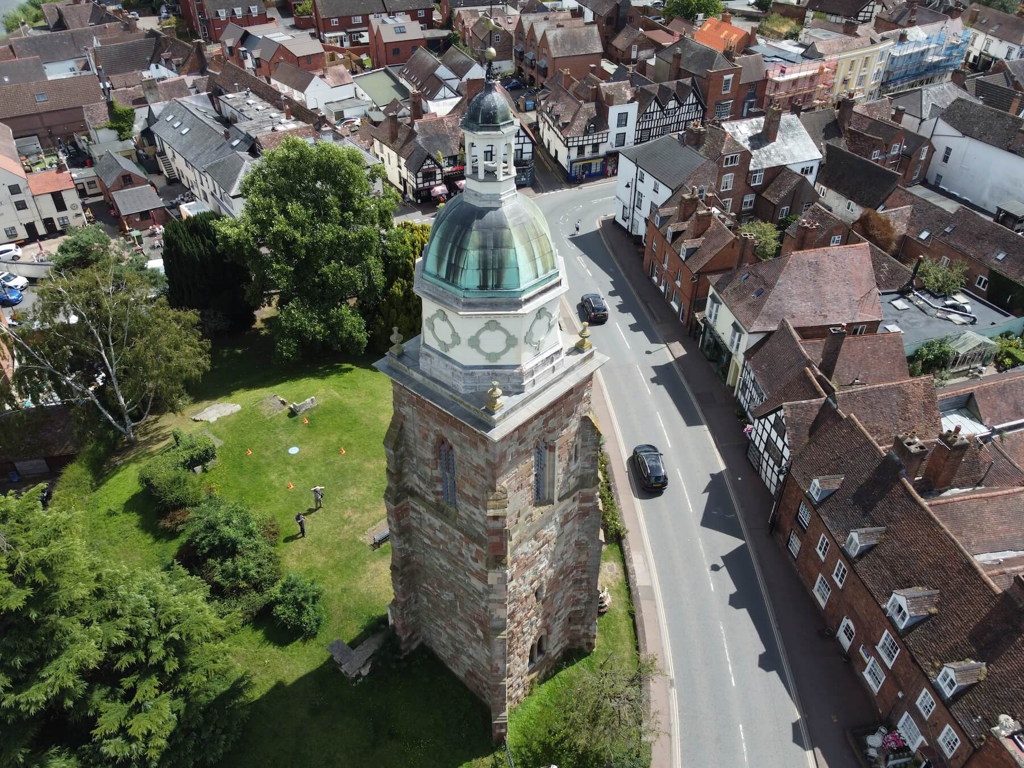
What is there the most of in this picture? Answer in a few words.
buildings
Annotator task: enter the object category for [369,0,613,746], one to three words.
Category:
building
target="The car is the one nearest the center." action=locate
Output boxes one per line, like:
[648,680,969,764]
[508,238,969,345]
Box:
[582,293,611,320]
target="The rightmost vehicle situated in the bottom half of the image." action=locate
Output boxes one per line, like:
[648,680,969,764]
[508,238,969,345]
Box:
[633,447,674,496]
